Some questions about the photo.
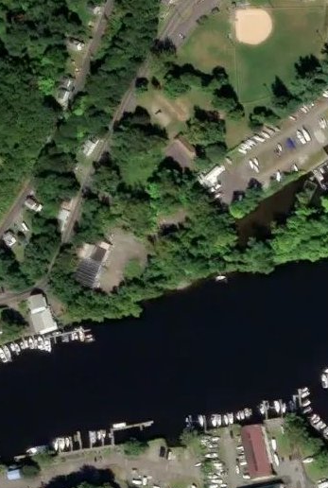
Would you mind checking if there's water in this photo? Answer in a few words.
Yes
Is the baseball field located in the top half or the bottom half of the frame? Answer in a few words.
top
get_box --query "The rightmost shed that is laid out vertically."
[240,425,274,477]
